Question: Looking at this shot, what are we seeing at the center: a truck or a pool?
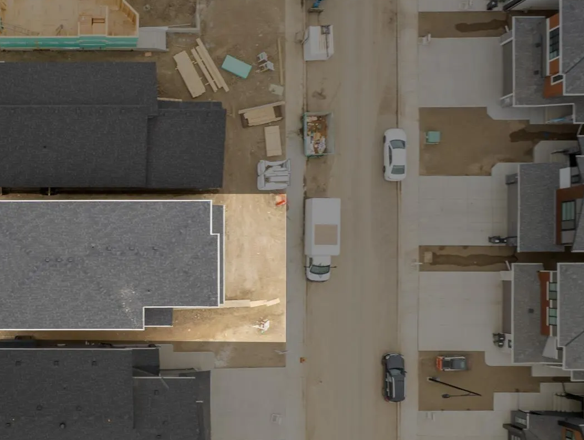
truck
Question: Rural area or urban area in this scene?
urban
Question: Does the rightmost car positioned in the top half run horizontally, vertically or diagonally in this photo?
vertically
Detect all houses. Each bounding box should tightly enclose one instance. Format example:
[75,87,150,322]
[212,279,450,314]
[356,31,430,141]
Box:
[0,336,212,440]
[0,0,199,52]
[494,0,584,125]
[507,394,584,440]
[506,134,584,254]
[0,61,226,199]
[0,199,225,332]
[502,261,584,383]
